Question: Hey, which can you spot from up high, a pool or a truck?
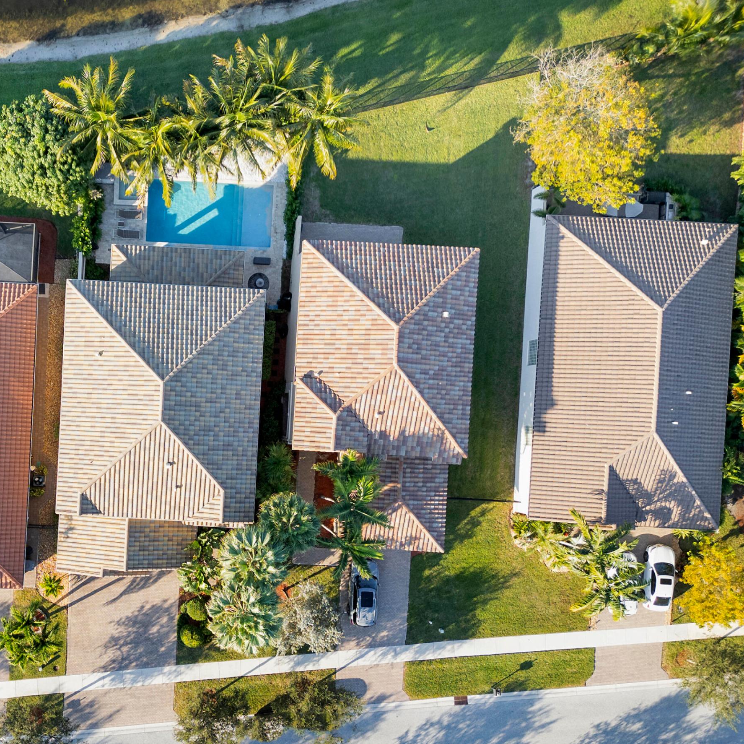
pool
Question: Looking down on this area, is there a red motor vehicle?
No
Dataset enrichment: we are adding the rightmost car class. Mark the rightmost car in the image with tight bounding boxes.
[639,541,677,612]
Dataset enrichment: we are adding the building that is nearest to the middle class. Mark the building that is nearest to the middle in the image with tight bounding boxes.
[283,239,482,554]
